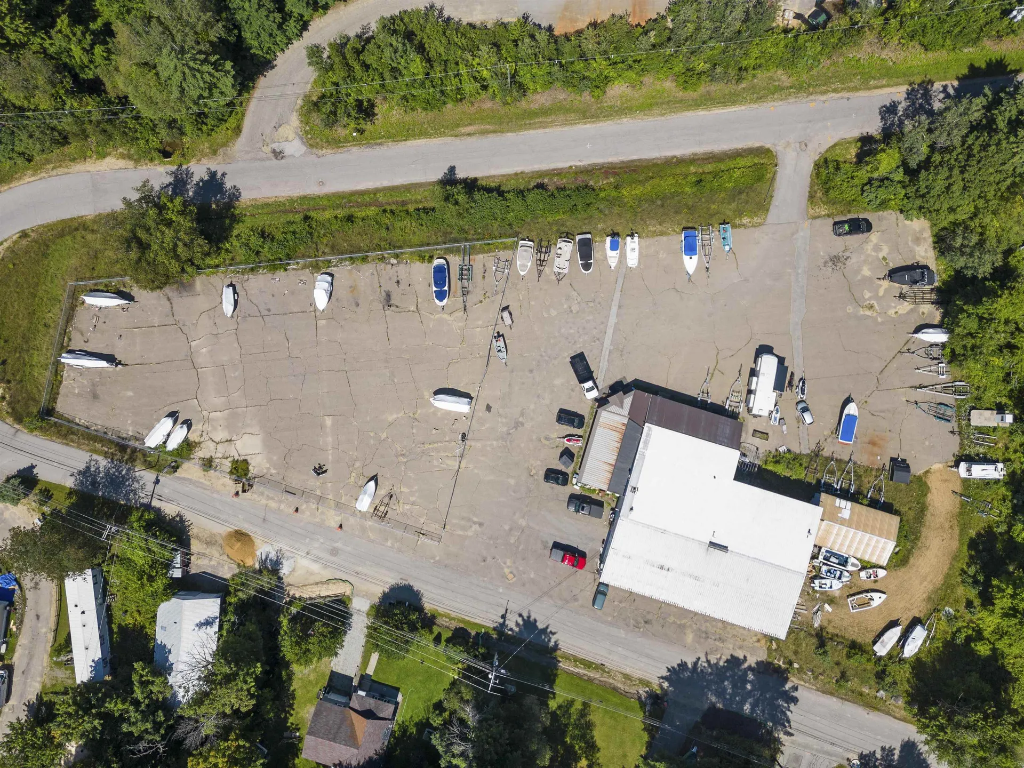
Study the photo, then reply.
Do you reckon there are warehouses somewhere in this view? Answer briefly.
Yes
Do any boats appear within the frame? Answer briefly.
Yes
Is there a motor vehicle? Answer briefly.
Yes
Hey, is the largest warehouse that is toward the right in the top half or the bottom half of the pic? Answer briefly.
bottom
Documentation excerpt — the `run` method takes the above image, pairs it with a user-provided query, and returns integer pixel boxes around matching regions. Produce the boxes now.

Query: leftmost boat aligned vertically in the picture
[223,285,236,316]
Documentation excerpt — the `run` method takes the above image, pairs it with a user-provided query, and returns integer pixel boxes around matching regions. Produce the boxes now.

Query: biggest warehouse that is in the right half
[600,390,822,641]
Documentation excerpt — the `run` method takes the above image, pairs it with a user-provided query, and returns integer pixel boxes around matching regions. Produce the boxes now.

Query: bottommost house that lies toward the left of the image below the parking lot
[302,683,399,768]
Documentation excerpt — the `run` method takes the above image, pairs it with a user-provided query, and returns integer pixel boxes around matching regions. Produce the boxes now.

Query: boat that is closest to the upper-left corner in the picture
[80,292,132,307]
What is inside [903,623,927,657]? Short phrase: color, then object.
white boat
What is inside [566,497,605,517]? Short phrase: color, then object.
gray vehicle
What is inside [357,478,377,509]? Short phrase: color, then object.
white boat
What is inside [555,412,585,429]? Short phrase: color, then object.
black car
